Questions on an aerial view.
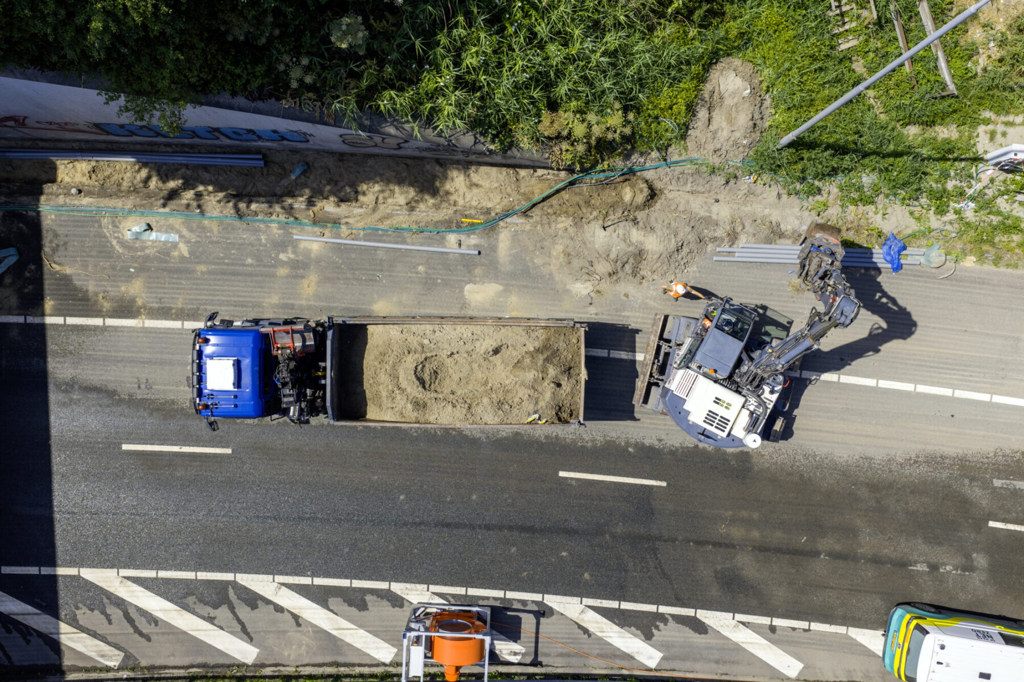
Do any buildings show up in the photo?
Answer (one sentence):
No, I find no building anywhere in the image.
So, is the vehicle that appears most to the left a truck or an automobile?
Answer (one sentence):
The vehicle that appears most to the left appears to be a truck.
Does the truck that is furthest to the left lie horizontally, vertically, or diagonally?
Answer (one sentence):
The truck that is furthest to the left is laid out horizontally.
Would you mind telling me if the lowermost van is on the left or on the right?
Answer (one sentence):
The lowermost van appears in the right half of the scene.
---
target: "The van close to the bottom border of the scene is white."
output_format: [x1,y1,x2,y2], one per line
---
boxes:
[879,605,1024,682]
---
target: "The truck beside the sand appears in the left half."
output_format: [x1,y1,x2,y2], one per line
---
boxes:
[190,312,593,431]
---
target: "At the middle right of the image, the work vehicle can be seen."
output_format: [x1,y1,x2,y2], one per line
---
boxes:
[630,220,863,450]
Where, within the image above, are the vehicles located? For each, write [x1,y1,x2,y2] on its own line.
[190,312,593,431]
[879,605,1024,682]
[630,220,863,450]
